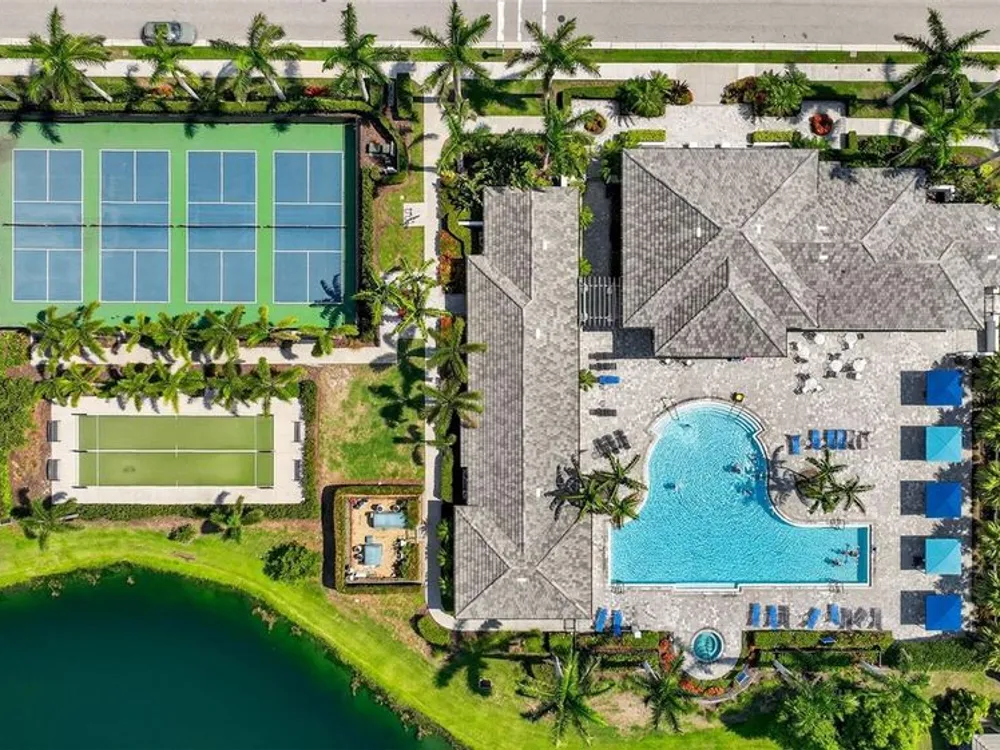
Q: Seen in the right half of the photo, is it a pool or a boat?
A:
pool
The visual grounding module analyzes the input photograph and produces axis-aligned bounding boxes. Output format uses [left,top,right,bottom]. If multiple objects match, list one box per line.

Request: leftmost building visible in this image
[454,181,594,618]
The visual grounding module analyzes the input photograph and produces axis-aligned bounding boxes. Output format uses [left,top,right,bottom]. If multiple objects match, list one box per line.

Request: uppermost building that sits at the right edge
[620,146,1000,357]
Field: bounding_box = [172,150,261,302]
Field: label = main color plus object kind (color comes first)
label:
blue sports court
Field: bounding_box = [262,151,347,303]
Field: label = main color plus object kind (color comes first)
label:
blue sports court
